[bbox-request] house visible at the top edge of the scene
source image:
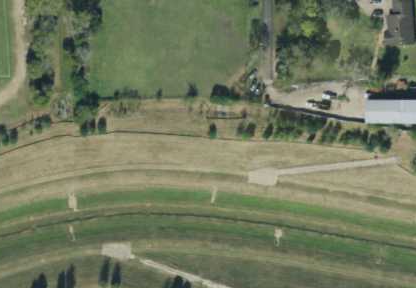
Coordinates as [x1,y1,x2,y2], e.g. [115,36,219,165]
[384,0,416,46]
